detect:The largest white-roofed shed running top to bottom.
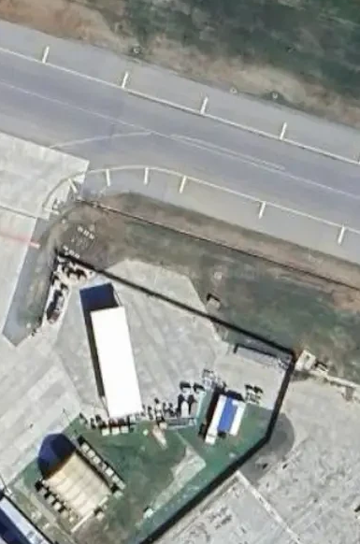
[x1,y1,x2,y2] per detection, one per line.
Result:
[89,305,143,418]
